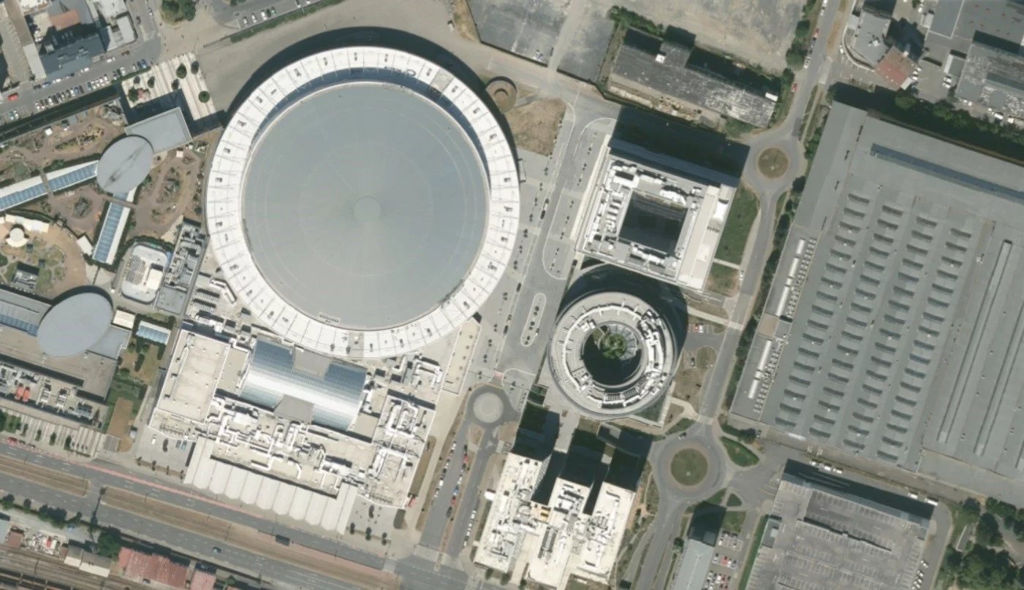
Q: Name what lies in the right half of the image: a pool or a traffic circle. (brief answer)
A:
traffic circle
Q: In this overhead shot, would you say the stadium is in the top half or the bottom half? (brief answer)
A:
top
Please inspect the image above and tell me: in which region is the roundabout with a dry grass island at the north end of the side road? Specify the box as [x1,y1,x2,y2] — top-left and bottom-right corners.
[746,135,800,189]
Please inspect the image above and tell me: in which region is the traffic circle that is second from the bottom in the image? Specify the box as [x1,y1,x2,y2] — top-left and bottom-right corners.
[464,382,512,425]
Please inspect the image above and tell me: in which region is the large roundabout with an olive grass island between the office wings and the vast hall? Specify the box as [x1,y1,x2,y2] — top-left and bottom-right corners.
[652,430,725,497]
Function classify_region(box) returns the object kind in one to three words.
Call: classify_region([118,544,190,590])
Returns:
building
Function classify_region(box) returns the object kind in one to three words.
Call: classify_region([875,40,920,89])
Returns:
house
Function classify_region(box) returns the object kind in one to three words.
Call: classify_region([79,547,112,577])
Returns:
shed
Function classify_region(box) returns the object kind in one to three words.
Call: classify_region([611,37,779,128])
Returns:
shed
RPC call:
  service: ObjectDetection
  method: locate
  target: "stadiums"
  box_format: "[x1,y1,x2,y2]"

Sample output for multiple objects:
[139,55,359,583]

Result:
[207,46,526,359]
